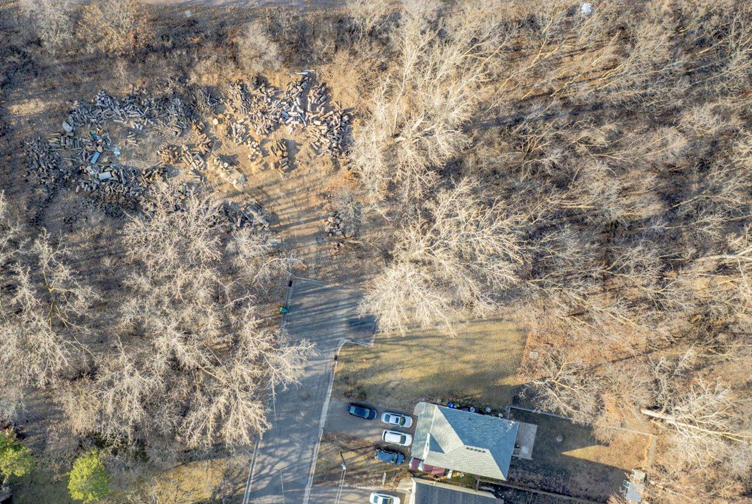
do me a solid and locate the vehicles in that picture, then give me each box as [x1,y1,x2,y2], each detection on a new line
[346,403,378,421]
[407,457,445,477]
[374,448,405,466]
[381,430,412,447]
[369,493,398,504]
[380,412,413,429]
